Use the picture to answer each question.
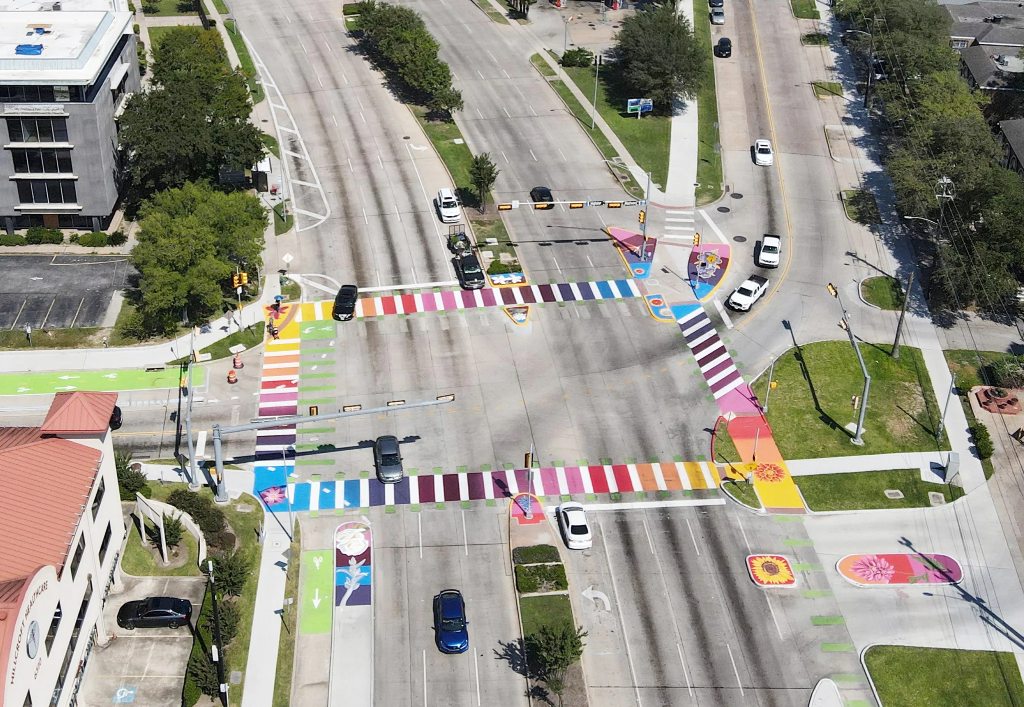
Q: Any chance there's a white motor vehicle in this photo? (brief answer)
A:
Yes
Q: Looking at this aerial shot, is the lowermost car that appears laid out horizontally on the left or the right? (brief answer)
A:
left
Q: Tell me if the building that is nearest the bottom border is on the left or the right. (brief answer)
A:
left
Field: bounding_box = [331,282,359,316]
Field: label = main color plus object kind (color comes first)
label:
black car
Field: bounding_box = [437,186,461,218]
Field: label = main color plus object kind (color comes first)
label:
white car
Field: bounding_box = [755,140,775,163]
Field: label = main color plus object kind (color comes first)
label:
white car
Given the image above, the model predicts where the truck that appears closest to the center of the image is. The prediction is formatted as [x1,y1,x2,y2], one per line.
[456,247,484,284]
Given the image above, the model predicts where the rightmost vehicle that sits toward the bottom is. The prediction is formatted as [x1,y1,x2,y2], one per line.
[556,493,594,545]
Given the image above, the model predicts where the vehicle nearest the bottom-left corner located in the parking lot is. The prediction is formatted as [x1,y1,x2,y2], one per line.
[118,593,195,628]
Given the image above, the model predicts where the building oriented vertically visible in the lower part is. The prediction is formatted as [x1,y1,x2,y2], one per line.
[0,389,130,707]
